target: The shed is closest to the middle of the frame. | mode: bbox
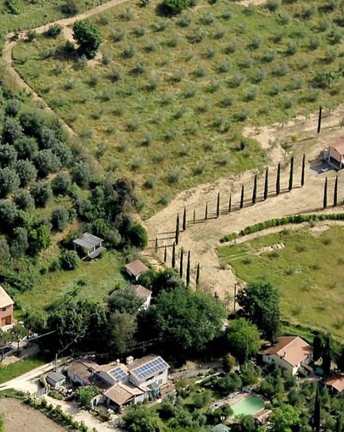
[122,258,149,281]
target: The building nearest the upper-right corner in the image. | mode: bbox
[322,135,344,170]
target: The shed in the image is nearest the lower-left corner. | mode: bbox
[43,365,67,386]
